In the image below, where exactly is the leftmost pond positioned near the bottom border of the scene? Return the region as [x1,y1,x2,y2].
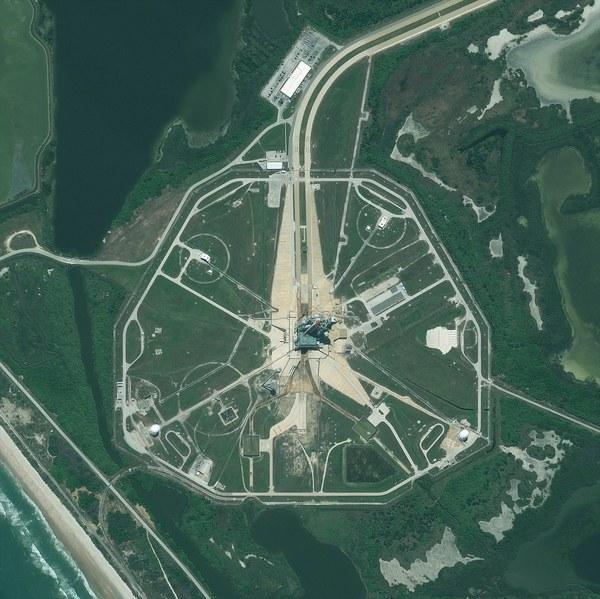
[253,508,366,599]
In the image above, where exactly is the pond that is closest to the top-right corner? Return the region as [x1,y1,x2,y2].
[506,0,600,114]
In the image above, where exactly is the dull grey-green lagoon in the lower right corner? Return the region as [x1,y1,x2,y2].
[506,486,600,594]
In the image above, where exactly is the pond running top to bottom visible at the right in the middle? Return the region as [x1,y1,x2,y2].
[536,146,600,383]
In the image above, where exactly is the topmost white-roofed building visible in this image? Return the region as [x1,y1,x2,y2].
[280,60,311,98]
